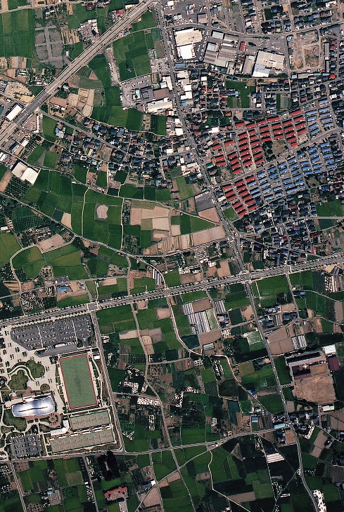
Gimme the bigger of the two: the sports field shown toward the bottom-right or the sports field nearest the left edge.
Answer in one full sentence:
Of the two, the sports field nearest the left edge is bigger, while the sports field shown toward the bottom-right is smaller.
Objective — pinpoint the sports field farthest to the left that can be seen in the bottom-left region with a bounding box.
[58,351,99,412]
